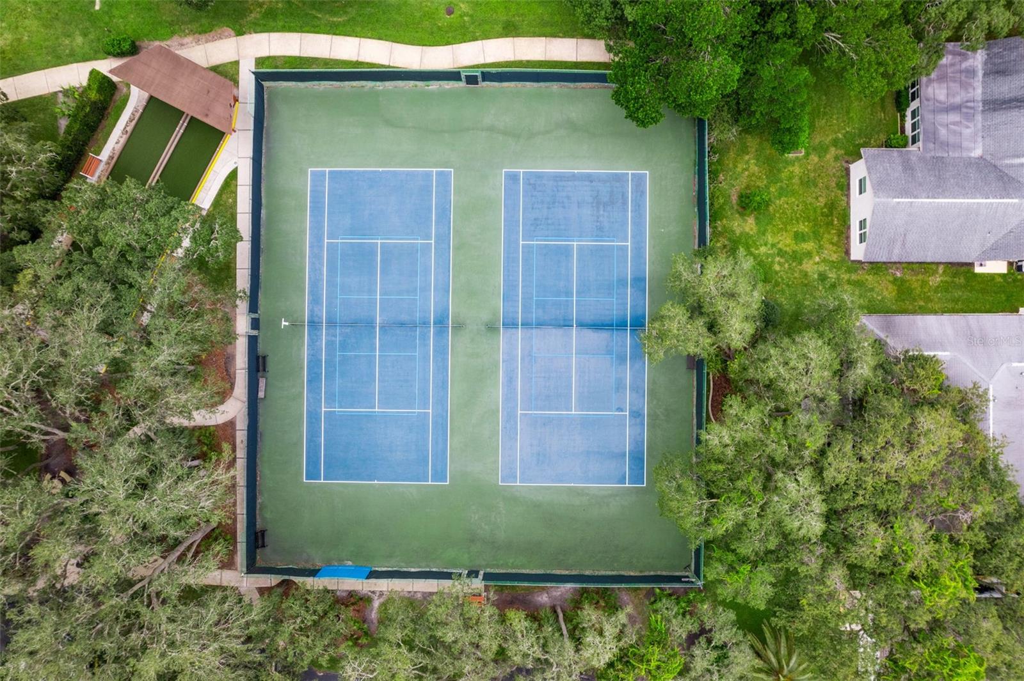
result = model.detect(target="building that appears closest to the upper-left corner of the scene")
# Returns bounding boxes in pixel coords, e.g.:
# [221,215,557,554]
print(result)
[109,44,236,134]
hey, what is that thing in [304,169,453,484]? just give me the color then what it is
blue tennis court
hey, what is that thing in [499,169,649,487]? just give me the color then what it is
blue tennis court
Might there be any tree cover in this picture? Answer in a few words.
Yes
